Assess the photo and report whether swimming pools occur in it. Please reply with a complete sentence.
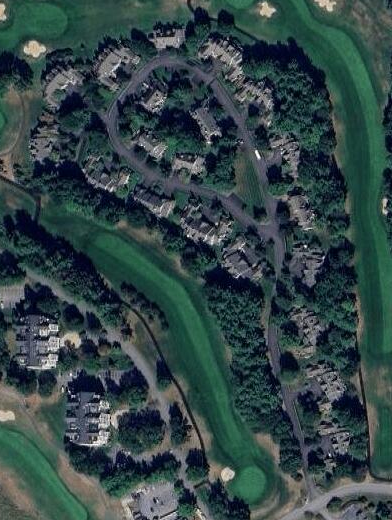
No, no swimming pool can be seen from above.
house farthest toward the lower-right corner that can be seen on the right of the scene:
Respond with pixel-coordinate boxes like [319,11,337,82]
[316,422,354,464]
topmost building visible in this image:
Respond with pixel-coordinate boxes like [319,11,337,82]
[148,25,187,52]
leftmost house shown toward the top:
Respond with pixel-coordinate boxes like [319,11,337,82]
[31,110,60,163]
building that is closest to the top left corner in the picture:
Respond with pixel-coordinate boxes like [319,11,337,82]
[40,65,85,112]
